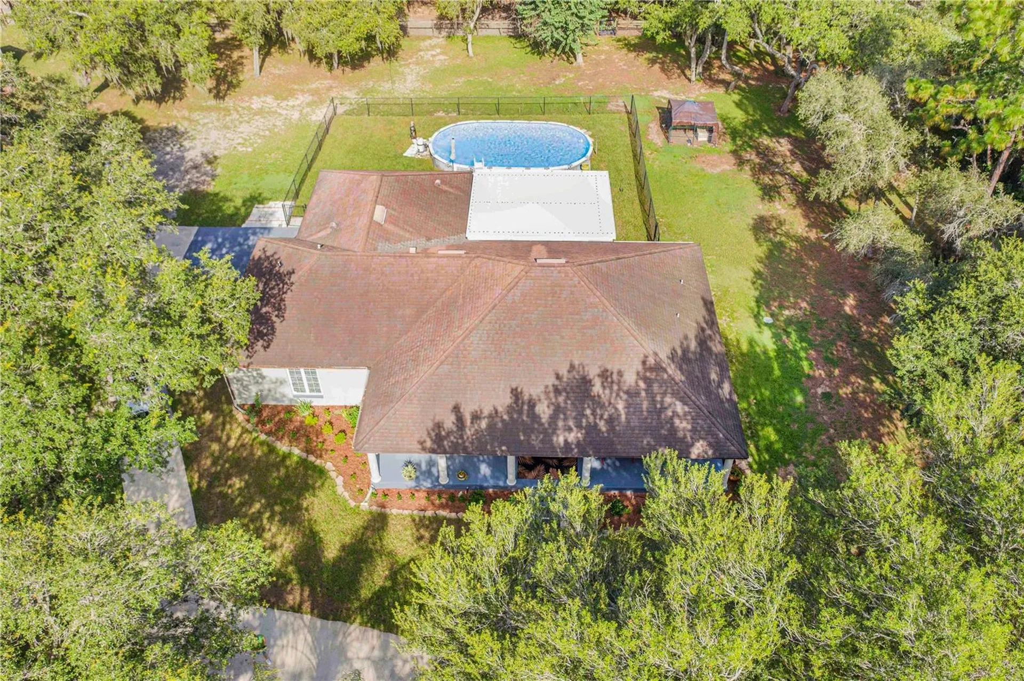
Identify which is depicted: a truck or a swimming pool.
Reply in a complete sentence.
Looking from above, you can make out a swimming pool.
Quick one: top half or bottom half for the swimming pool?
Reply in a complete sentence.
It is in the top half that the swimming pool appears.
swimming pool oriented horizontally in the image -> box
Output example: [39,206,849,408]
[426,120,593,182]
